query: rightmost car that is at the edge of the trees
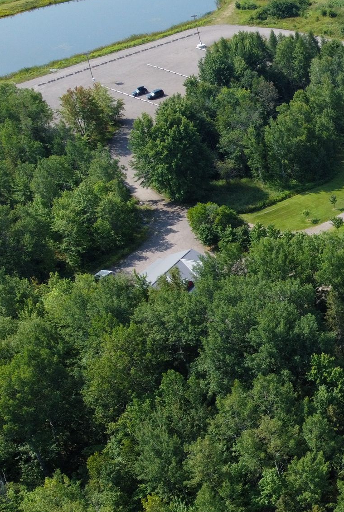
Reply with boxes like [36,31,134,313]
[146,87,165,100]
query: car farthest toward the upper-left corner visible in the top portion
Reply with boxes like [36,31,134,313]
[129,82,148,96]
